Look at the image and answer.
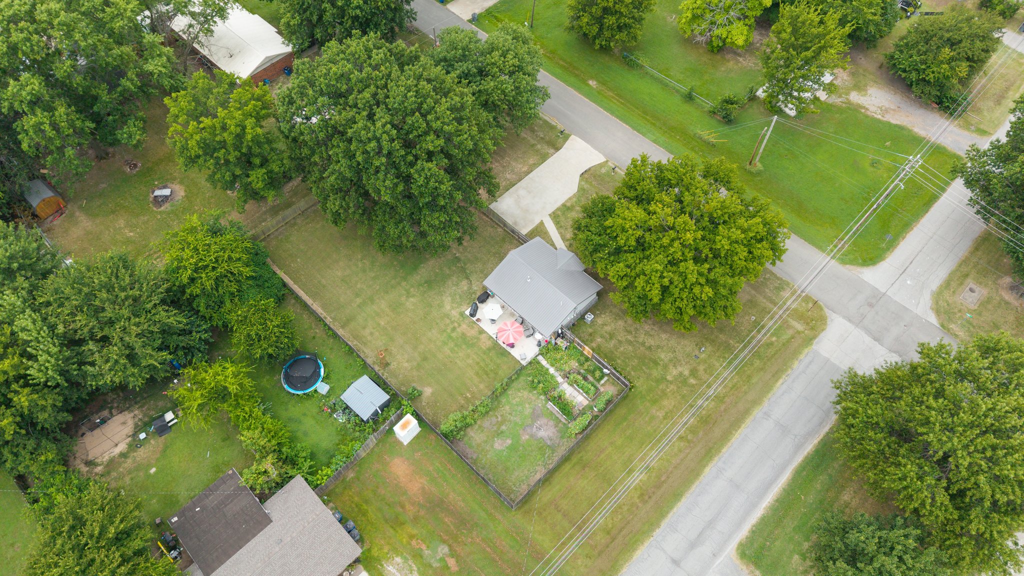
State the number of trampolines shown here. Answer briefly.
one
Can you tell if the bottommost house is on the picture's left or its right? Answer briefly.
left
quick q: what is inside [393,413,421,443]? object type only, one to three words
shed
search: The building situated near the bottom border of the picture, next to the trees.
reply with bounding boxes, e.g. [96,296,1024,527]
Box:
[167,468,362,576]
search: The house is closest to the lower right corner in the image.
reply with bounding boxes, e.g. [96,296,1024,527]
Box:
[482,237,600,345]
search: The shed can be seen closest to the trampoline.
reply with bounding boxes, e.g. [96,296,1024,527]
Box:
[340,375,390,422]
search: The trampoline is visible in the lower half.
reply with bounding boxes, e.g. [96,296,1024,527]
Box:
[274,346,323,405]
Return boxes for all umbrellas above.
[483,302,503,322]
[492,319,524,347]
